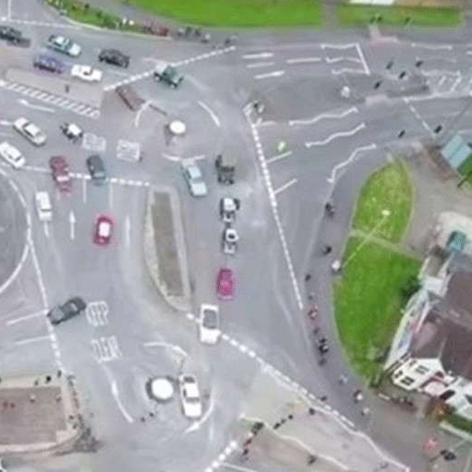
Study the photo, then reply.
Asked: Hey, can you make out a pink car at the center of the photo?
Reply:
Yes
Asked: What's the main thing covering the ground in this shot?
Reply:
paved ground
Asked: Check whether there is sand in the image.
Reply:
No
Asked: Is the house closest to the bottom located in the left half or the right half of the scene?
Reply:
right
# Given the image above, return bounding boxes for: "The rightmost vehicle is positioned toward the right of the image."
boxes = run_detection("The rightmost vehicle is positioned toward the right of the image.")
[444,227,471,255]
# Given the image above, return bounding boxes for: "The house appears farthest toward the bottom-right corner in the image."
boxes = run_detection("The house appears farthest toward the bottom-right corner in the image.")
[392,277,472,426]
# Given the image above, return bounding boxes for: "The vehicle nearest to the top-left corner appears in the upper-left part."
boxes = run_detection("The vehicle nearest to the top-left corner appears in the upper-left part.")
[0,24,33,48]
